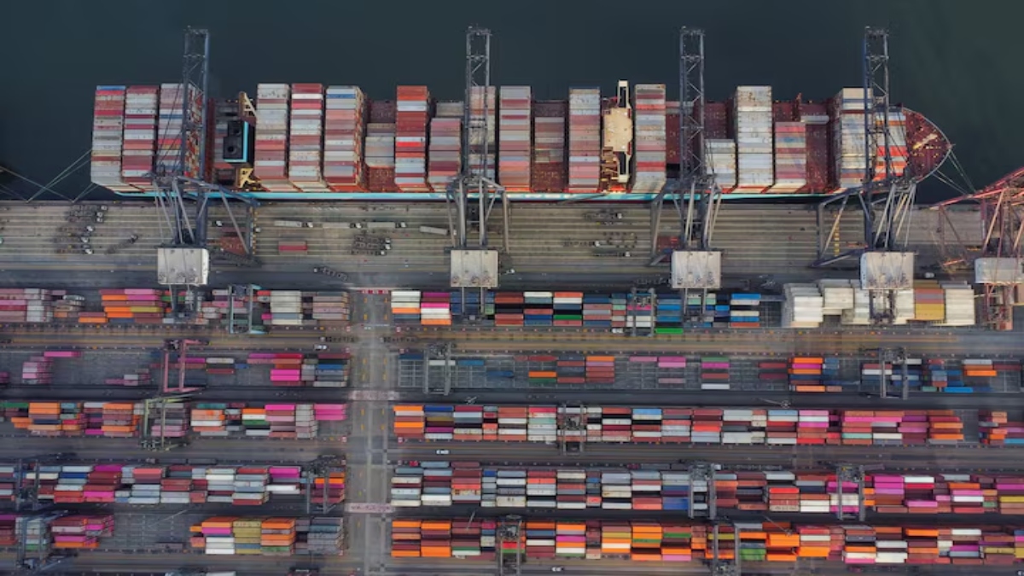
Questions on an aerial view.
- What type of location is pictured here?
port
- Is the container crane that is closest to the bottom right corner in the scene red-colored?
No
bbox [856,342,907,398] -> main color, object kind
gray container crane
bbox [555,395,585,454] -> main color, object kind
gray container crane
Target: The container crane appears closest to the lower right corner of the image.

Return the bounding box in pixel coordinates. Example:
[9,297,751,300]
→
[815,455,863,520]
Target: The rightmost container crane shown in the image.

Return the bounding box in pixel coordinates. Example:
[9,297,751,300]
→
[925,167,1024,326]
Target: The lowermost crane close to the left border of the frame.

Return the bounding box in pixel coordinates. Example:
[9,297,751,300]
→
[16,503,77,574]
